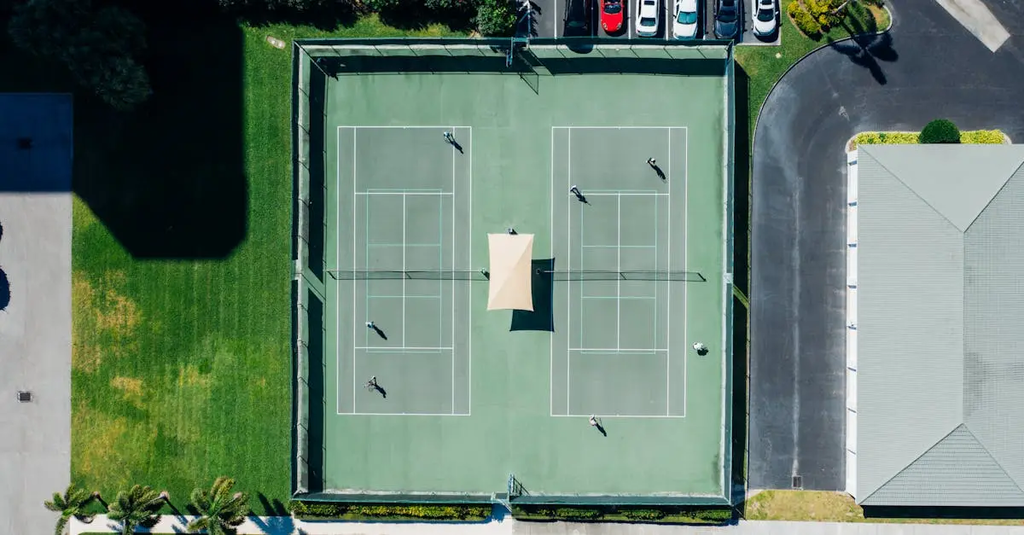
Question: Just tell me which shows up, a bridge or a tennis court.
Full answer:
Visible in the photo is a tennis court.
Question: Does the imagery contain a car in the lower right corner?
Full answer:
No, I can find no car in the lower right corner.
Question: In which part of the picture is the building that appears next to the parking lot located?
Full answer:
The building that appears next to the parking lot appears toward the right of the photo.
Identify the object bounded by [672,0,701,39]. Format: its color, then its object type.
white car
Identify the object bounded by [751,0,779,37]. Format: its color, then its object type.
white car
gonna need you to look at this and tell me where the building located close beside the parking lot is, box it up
[846,144,1024,505]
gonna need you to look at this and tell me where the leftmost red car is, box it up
[599,0,627,34]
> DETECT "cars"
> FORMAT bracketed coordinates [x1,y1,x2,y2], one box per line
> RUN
[714,0,742,39]
[635,0,659,38]
[751,0,779,37]
[562,0,591,41]
[599,0,627,34]
[672,0,701,39]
